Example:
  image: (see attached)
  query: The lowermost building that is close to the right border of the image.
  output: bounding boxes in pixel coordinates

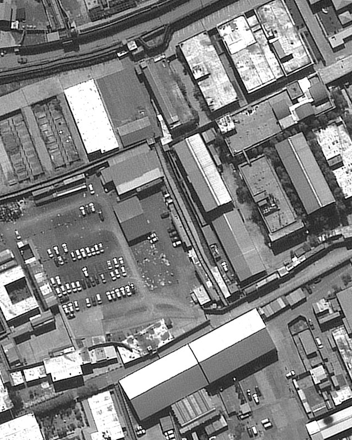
[305,406,352,440]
